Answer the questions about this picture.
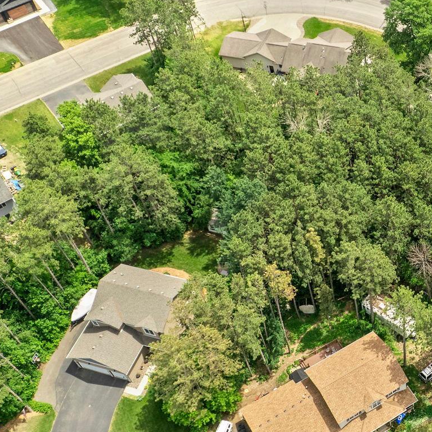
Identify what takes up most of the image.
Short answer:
trees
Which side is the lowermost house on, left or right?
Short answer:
right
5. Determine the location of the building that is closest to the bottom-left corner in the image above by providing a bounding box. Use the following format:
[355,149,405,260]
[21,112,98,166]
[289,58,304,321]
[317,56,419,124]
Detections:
[67,267,176,380]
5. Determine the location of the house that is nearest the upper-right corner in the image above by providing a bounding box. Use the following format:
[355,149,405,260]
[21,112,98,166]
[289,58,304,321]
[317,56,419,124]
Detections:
[224,28,354,87]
